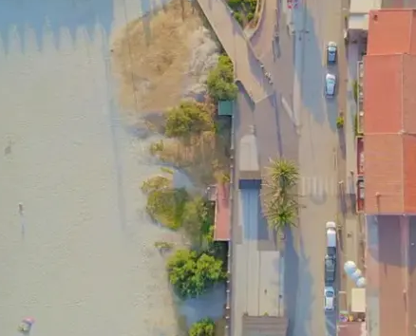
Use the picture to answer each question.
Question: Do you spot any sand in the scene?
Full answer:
Yes, sand can be seen from above here.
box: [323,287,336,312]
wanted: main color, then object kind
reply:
white vehicle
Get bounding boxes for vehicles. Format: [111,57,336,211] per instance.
[325,223,338,249]
[325,74,337,98]
[324,249,338,283]
[323,287,336,312]
[326,42,338,64]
